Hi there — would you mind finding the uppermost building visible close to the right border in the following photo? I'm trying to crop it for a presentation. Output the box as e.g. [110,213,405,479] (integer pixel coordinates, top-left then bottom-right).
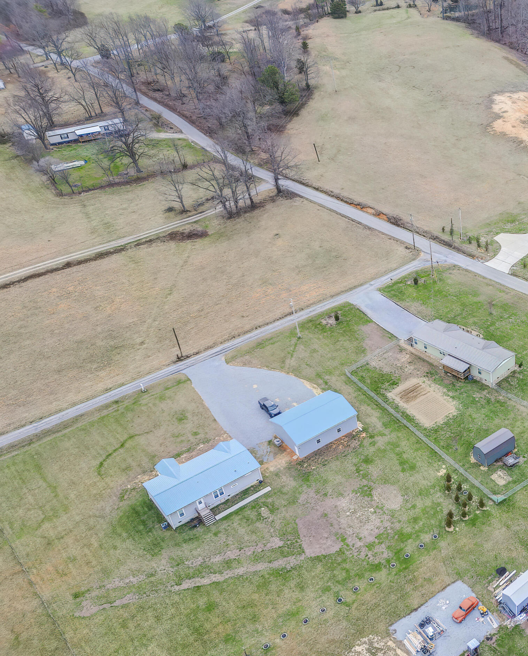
[408,319,516,386]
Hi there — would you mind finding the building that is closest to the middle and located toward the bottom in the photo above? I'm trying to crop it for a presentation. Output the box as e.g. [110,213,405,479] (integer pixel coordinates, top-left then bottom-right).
[269,391,363,458]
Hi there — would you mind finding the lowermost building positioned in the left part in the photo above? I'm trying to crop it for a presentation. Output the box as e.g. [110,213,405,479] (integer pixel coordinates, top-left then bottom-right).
[142,438,263,528]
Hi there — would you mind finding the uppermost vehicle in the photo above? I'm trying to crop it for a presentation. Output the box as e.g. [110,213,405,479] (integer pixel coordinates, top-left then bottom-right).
[258,397,281,417]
